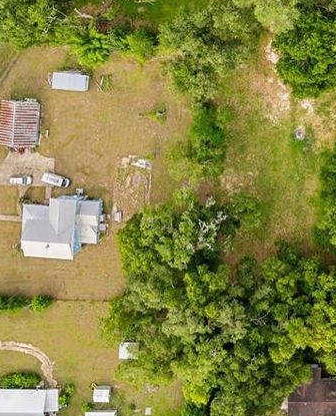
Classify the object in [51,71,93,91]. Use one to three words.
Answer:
shed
